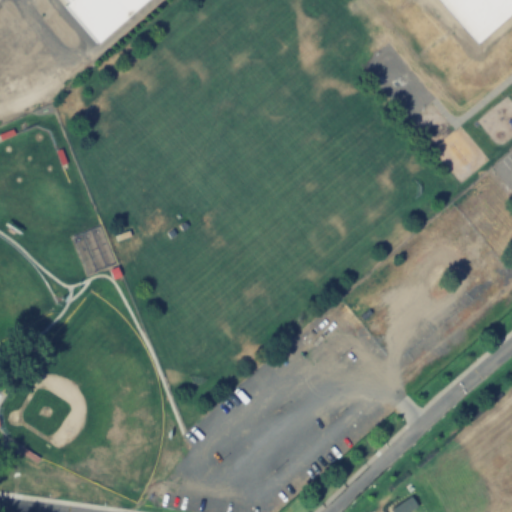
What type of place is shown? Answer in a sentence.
This looks like a sports ground.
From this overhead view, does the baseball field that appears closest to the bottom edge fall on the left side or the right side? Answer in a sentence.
The baseball field that appears closest to the bottom edge is on the left side of the image.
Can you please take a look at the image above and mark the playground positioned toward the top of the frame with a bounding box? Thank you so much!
[479,97,512,145]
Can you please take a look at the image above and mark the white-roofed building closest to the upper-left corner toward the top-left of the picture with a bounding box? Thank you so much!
[60,0,150,44]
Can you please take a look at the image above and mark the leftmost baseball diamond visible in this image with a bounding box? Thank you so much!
[4,292,163,502]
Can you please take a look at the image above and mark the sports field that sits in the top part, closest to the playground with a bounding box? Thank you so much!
[60,0,456,400]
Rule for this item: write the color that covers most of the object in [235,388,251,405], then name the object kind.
white camper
